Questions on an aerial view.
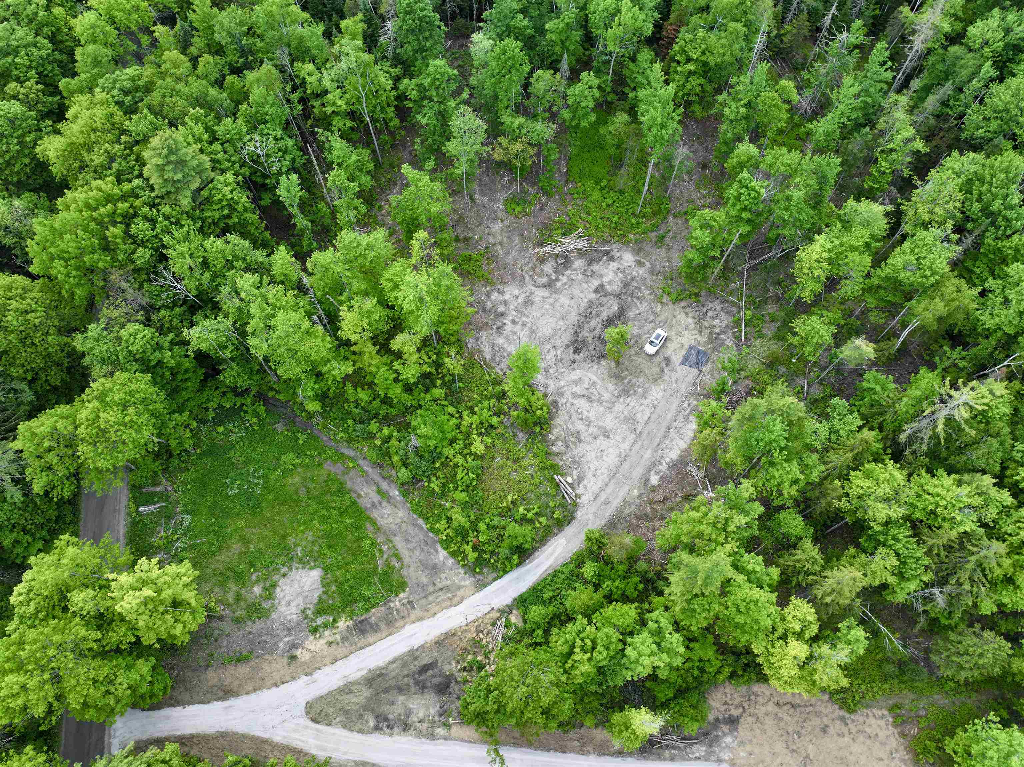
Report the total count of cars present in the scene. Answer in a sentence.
In total, 1 car can be seen.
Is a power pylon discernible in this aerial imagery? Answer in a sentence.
No, the scene contains no power pylon.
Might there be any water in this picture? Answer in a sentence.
No, there's no water in this view.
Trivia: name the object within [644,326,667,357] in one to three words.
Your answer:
car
